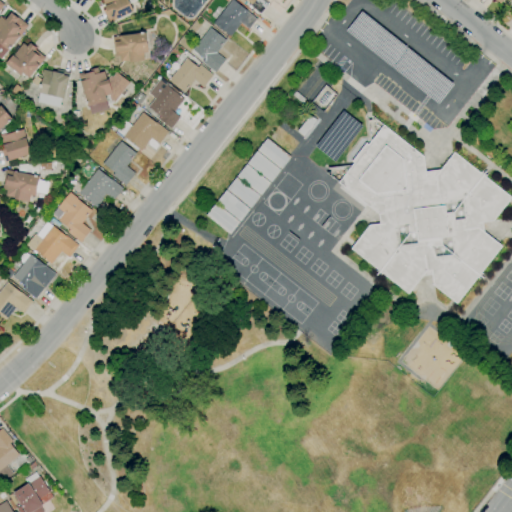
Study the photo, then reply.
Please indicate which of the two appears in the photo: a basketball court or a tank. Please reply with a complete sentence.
The image shows a basketball court.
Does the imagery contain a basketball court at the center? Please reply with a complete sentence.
Yes, a basketball court can be seen at the center.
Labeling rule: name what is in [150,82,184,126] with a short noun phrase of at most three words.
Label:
house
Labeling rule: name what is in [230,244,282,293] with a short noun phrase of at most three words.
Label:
basketball court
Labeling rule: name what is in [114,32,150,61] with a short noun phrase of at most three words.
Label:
house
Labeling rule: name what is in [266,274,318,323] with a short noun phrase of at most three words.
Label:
basketball court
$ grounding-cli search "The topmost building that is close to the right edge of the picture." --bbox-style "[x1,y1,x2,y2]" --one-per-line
[340,124,512,304]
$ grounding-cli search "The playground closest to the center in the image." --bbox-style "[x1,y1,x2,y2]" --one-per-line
[218,108,374,354]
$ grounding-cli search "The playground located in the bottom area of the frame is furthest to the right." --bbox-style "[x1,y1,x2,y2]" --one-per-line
[468,264,512,358]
